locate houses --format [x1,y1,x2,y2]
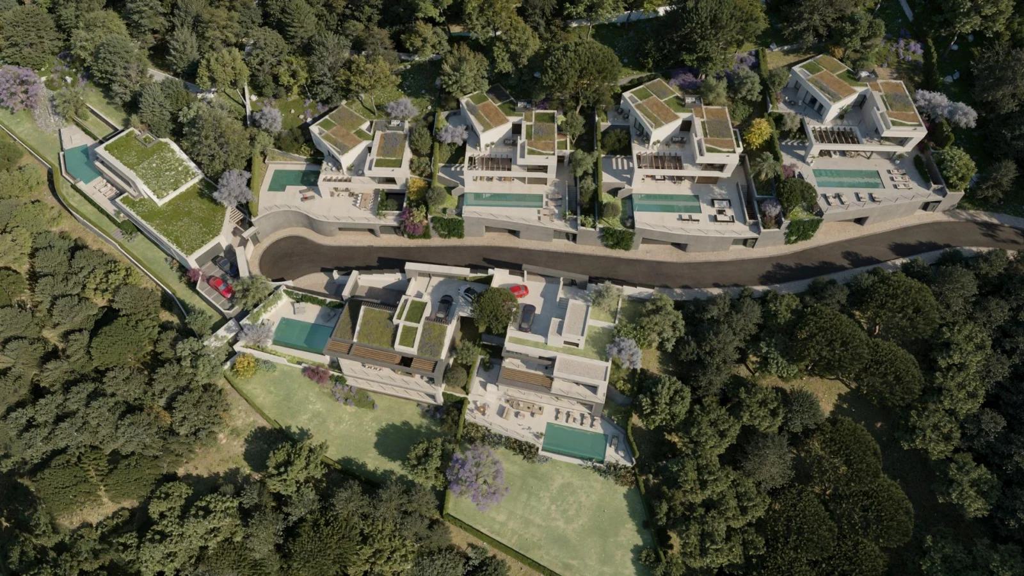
[606,78,762,254]
[59,123,245,322]
[253,104,413,239]
[766,55,948,228]
[466,268,636,471]
[233,270,488,408]
[441,86,580,249]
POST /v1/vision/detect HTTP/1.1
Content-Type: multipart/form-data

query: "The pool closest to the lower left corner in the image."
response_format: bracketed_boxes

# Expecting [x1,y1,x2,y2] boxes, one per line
[273,318,334,355]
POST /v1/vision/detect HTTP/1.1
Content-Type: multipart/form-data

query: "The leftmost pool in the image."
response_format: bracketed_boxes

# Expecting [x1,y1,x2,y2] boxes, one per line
[65,145,102,183]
